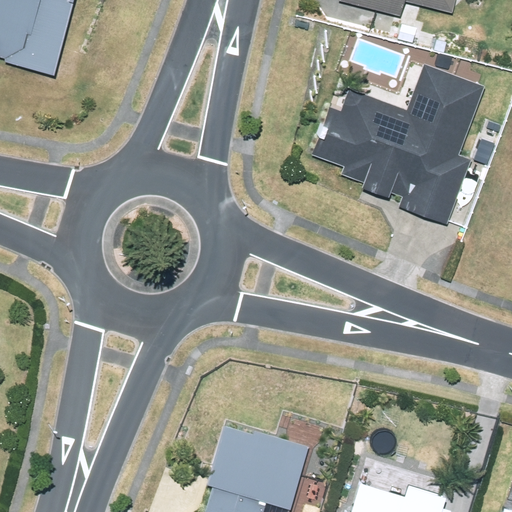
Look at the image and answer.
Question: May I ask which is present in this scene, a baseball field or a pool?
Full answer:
The one in the frame is a pool.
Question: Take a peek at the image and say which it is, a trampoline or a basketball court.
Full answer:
I can see a trampoline in this picture.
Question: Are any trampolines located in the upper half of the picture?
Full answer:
No, no trampoline is visible in the upper half of the picture.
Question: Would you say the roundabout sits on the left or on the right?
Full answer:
The roundabout sits on the left side.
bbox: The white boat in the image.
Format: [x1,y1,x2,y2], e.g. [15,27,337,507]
[458,169,480,211]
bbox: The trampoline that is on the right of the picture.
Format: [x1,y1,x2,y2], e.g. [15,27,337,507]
[370,428,396,455]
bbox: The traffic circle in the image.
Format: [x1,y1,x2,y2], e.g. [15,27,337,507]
[42,127,274,364]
